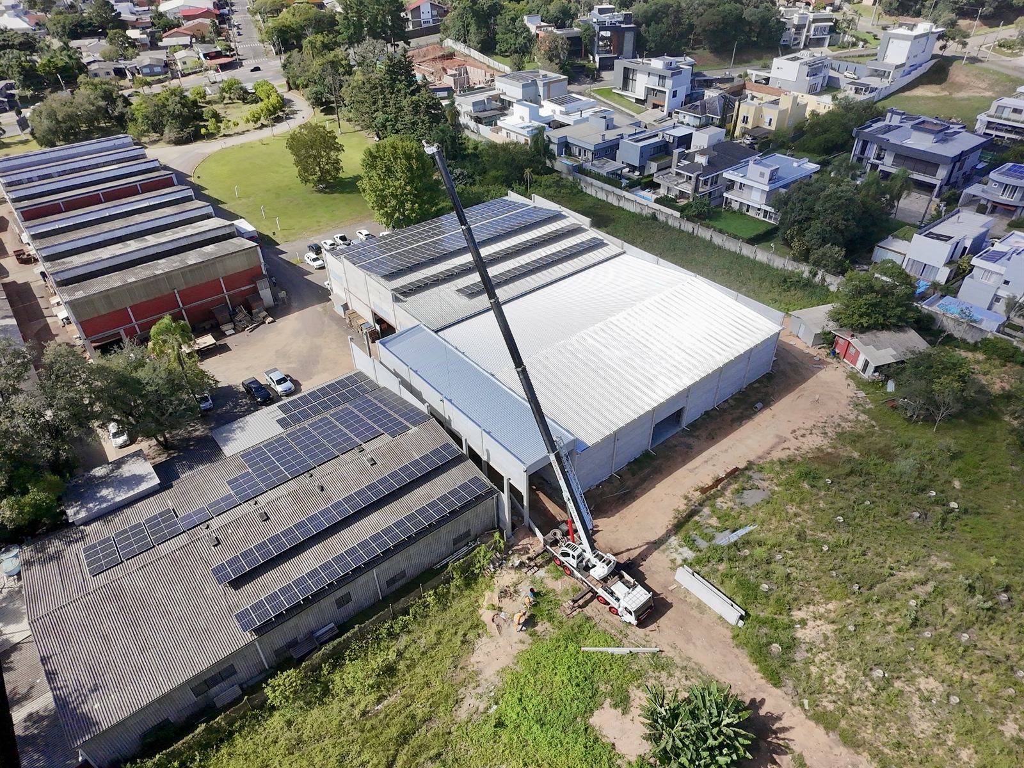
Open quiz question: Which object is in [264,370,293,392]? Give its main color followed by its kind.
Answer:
white truck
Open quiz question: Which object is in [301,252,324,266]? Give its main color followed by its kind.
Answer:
white car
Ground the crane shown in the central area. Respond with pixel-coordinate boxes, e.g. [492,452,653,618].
[414,142,653,630]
